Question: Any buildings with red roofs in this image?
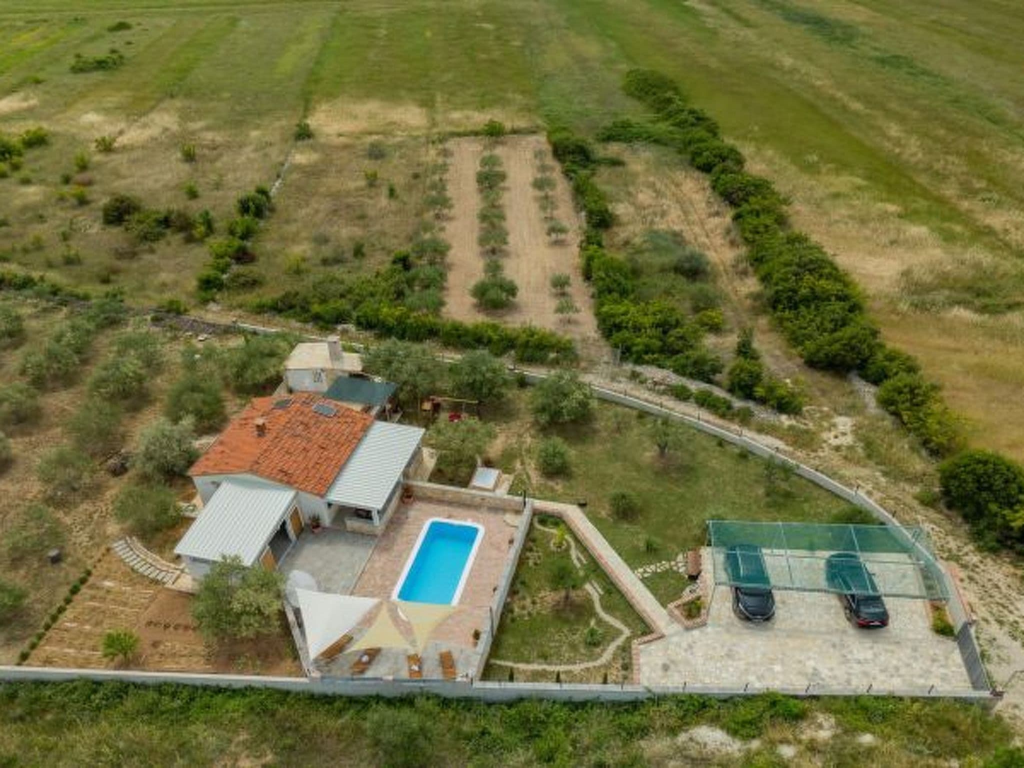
Yes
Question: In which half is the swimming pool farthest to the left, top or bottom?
bottom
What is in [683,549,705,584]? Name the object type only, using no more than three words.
building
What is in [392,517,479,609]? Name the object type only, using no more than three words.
swimming pool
